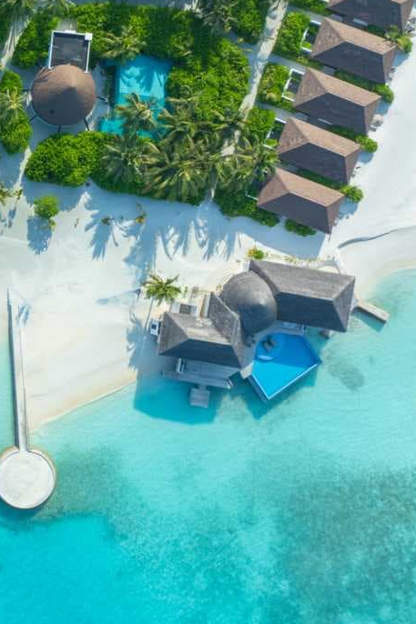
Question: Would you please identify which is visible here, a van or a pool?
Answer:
pool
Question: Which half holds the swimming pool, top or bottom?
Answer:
top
